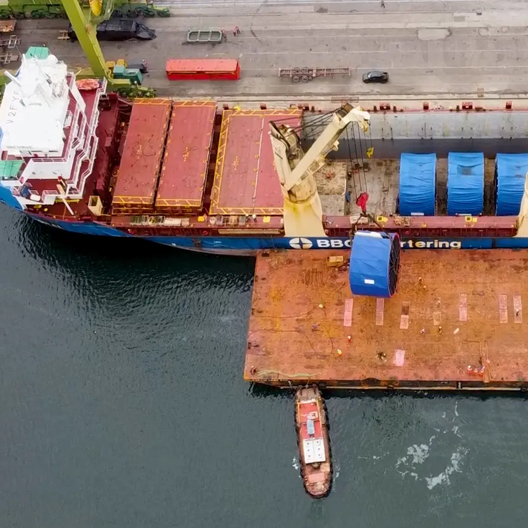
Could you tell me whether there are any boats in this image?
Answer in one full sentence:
Yes, the frame does contain a boat.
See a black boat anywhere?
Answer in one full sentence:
No, no black boat can be seen from above.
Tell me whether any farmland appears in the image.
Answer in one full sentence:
No, there is no farmland in the image.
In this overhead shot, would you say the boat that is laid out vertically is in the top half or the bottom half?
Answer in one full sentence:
It is in the bottom half that the boat that is laid out vertically appears.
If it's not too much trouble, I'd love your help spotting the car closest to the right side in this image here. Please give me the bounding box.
[362,71,388,84]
